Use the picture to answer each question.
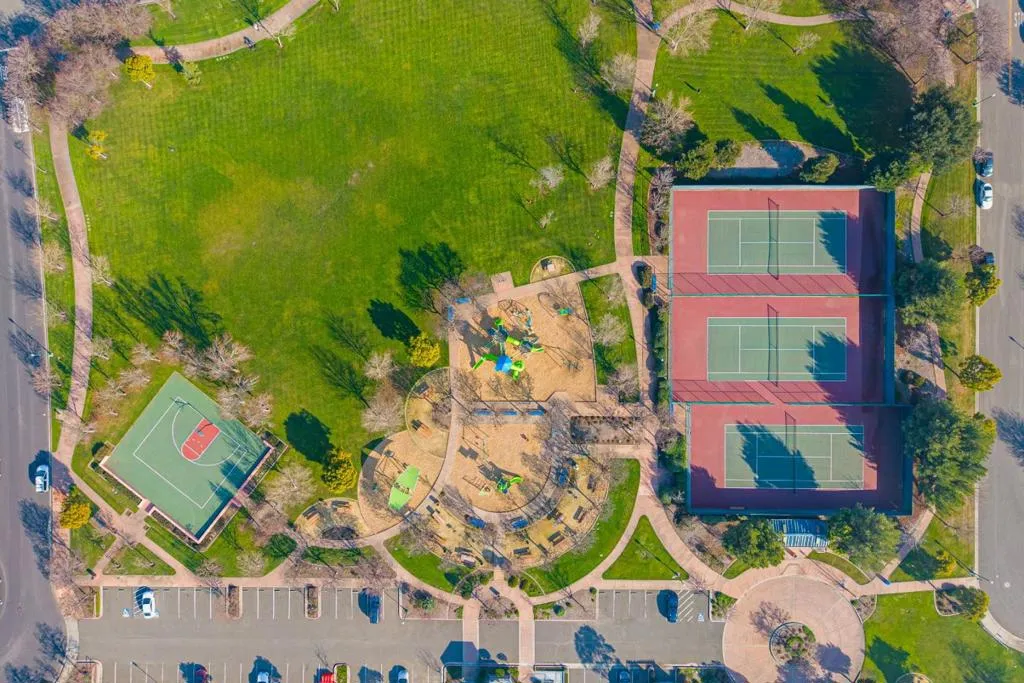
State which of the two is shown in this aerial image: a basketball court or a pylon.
basketball court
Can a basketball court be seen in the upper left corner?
No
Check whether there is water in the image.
No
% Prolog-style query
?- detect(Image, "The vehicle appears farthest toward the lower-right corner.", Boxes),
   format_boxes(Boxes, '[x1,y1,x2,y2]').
[666,593,680,624]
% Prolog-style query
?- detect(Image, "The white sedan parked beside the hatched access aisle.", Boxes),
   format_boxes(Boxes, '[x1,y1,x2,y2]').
[138,592,154,620]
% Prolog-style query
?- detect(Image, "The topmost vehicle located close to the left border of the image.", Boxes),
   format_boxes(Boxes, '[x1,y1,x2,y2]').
[31,464,48,494]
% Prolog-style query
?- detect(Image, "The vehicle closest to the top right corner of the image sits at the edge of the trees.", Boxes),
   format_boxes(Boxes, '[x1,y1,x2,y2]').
[979,148,996,176]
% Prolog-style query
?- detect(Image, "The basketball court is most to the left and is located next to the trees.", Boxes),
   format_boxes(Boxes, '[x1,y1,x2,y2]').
[101,372,269,541]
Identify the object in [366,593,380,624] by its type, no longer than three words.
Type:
car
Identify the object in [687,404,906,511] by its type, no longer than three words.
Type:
tennis court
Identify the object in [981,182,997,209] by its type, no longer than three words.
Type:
car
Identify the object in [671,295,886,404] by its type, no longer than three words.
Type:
tennis court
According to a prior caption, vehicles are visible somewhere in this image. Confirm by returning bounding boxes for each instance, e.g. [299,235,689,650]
[981,182,997,209]
[979,148,996,176]
[138,592,154,620]
[366,593,380,624]
[255,673,269,683]
[192,670,207,683]
[31,464,48,494]
[320,674,333,683]
[666,593,680,624]
[619,673,631,683]
[396,671,409,683]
